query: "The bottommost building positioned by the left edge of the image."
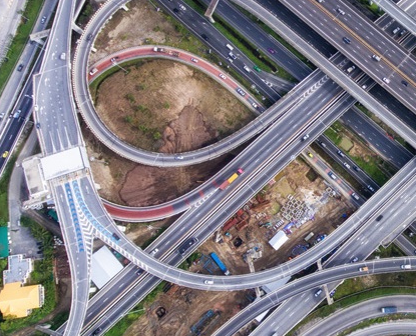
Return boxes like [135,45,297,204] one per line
[0,281,51,311]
